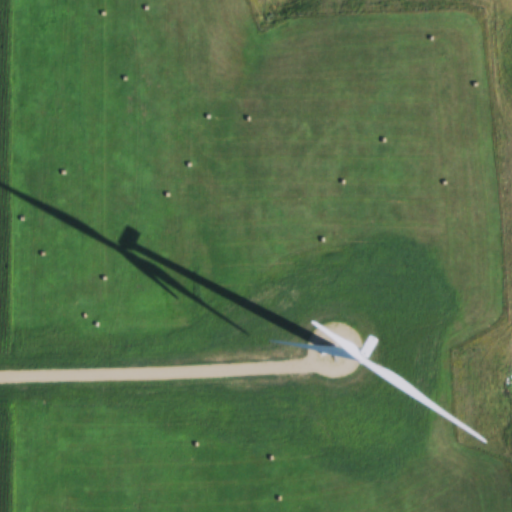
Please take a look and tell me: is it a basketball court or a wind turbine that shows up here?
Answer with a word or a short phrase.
wind turbine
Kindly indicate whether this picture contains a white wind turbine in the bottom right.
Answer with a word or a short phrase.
Yes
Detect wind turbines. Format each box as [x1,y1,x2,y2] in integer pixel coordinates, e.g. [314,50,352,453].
[272,320,486,442]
